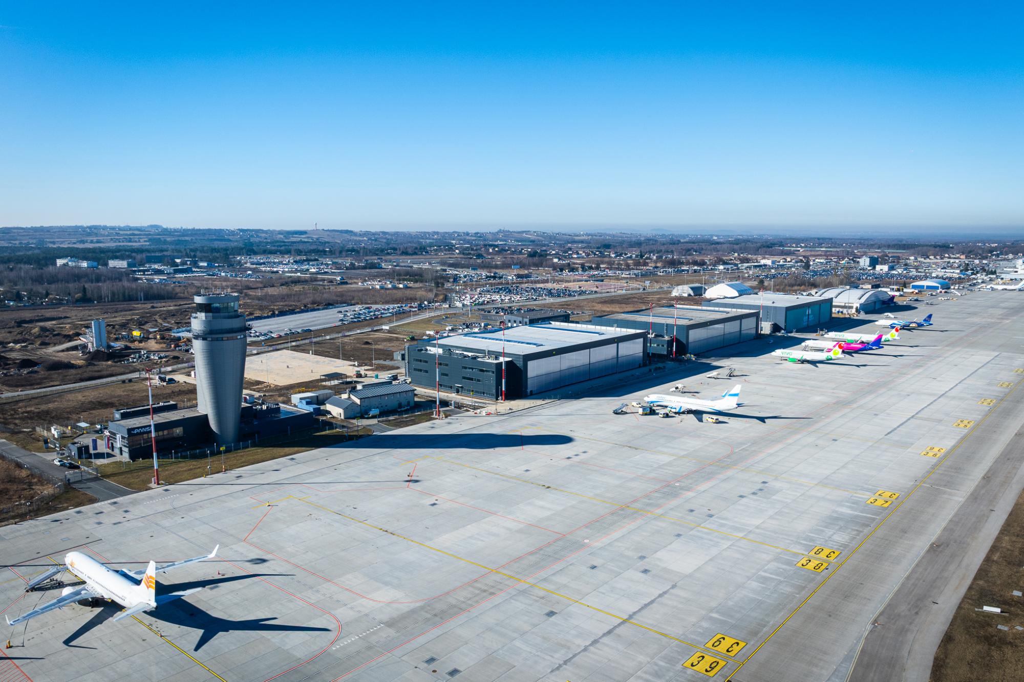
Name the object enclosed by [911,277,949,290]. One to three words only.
hangar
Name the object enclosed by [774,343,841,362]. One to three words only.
airplane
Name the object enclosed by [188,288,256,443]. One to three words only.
building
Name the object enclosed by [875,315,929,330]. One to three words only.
airplane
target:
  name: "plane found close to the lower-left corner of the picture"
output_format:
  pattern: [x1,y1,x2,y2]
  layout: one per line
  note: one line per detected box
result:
[9,547,213,625]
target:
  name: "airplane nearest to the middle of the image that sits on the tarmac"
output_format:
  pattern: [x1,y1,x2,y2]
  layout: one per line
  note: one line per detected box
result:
[644,387,739,414]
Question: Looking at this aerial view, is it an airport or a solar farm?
airport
